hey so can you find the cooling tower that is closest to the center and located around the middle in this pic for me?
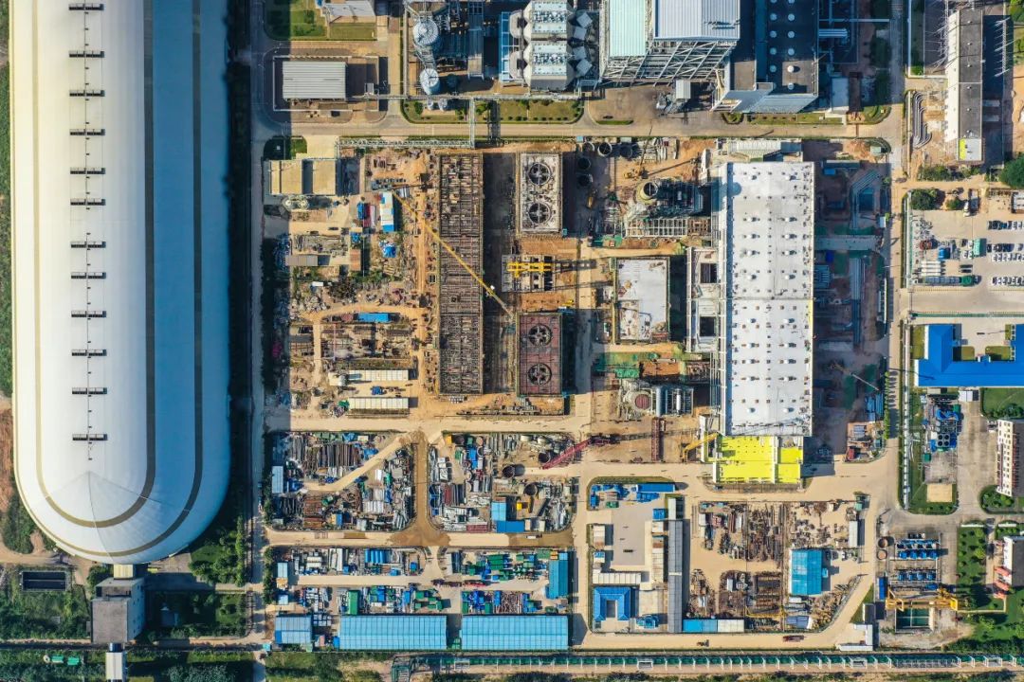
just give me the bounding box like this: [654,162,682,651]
[515,309,563,398]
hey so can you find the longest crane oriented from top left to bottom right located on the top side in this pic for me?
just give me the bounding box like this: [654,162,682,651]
[371,176,514,317]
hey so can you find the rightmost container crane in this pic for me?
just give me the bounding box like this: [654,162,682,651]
[880,593,958,612]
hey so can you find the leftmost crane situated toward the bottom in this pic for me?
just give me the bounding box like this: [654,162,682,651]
[540,431,621,469]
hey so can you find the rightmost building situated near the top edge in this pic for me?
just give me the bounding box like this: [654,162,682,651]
[947,9,983,144]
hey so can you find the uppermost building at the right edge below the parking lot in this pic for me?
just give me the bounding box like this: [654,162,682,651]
[914,324,1024,386]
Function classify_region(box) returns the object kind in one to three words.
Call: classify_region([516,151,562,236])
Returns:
cooling tower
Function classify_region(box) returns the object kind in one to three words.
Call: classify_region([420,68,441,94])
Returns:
silo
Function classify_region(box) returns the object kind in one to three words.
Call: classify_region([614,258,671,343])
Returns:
building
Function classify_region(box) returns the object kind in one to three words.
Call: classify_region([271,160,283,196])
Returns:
shed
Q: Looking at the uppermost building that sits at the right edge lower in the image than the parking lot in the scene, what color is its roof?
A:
blue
